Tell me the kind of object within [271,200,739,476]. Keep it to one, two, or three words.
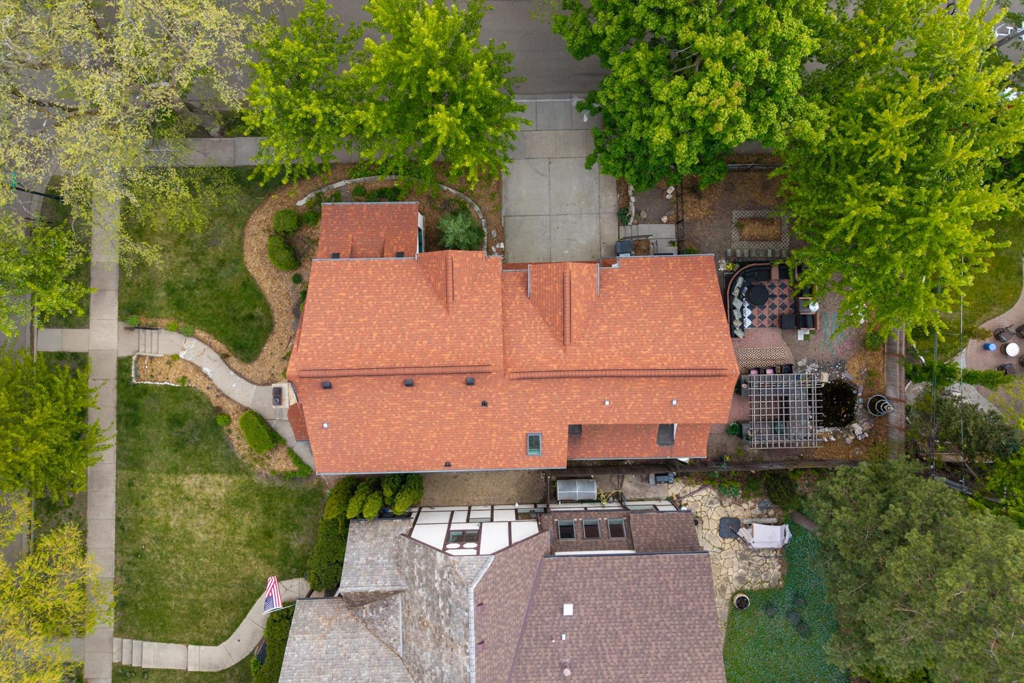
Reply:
house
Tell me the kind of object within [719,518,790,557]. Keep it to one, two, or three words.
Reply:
umbrella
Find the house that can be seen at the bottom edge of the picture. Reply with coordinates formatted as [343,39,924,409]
[279,497,725,683]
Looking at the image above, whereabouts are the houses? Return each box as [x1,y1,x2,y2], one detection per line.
[279,497,725,683]
[271,200,739,476]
